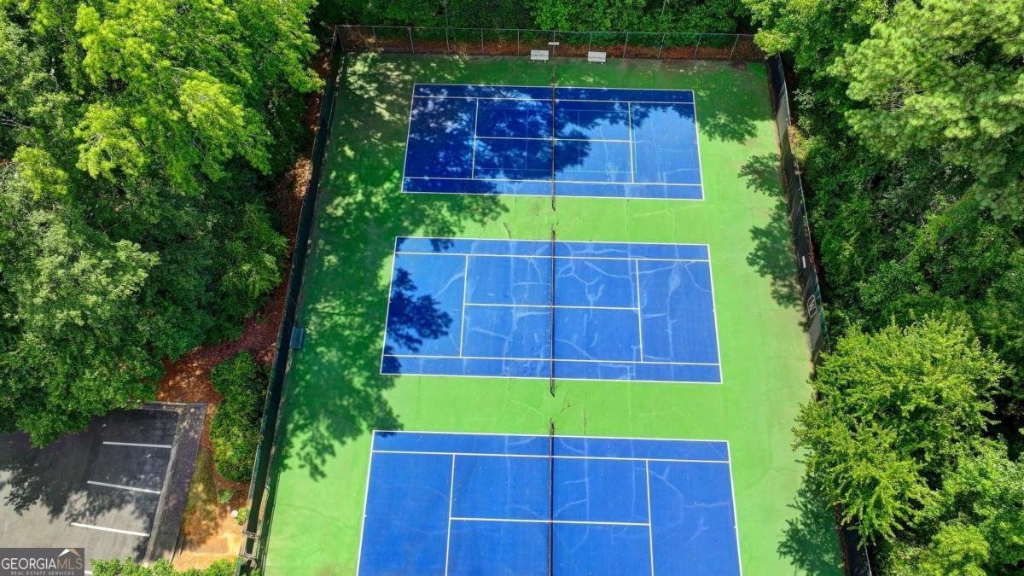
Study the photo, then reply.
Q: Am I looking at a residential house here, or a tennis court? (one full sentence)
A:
Visible in the photo is a tennis court.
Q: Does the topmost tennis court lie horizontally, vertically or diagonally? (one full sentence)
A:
The topmost tennis court is oriented horizontally.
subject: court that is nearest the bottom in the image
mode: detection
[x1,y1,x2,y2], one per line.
[358,431,741,576]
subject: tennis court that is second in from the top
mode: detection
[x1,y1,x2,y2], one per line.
[381,237,722,383]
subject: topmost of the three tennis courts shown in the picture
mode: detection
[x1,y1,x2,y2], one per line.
[402,84,703,199]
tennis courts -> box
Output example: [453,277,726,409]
[381,237,722,383]
[358,431,741,576]
[402,84,703,199]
